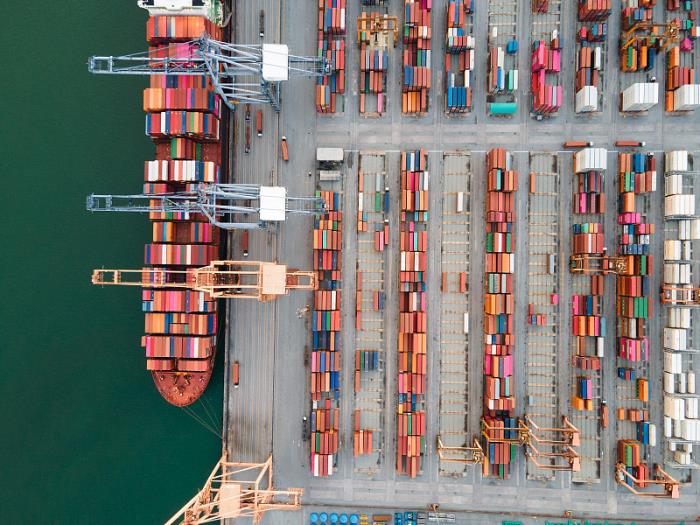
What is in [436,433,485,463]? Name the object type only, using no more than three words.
container crane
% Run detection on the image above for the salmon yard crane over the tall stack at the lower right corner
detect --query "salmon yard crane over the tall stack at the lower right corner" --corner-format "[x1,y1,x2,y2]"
[617,465,682,500]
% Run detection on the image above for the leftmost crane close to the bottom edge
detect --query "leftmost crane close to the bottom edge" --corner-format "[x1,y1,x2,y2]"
[162,447,302,525]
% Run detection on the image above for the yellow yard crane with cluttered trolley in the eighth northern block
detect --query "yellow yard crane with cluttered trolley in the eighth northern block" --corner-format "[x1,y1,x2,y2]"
[619,21,681,55]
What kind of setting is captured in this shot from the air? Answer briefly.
port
